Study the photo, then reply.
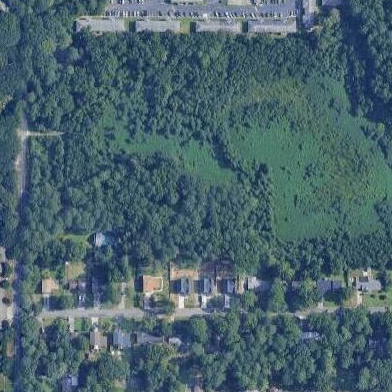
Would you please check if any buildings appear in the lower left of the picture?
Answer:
Yes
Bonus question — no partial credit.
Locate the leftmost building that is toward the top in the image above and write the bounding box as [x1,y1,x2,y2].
[75,20,125,32]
